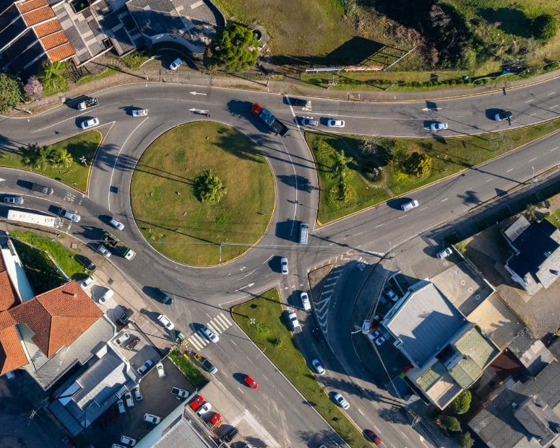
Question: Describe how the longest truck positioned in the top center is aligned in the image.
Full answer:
The longest truck positioned in the top center has been laid out on a diagonal relative to the frame.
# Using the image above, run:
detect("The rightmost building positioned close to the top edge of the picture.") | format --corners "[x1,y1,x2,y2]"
[126,0,225,47]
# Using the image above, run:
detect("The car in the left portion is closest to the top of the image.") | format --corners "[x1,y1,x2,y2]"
[169,55,184,71]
